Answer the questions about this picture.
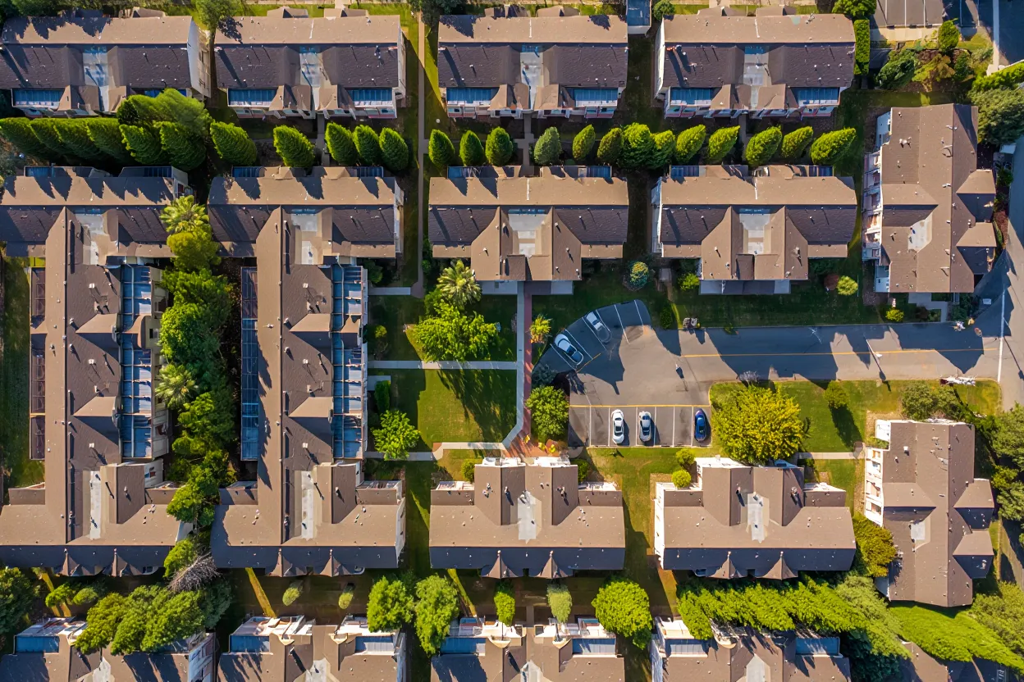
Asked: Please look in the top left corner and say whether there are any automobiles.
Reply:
No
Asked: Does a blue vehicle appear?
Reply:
Yes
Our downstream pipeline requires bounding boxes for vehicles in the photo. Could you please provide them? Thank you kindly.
[693,409,710,442]
[583,310,614,343]
[554,332,584,365]
[609,409,626,444]
[638,410,654,443]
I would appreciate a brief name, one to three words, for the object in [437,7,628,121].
building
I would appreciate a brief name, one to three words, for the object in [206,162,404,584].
building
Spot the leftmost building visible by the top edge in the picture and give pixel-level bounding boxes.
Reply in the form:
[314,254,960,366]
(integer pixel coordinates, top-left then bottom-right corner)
[0,7,211,121]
